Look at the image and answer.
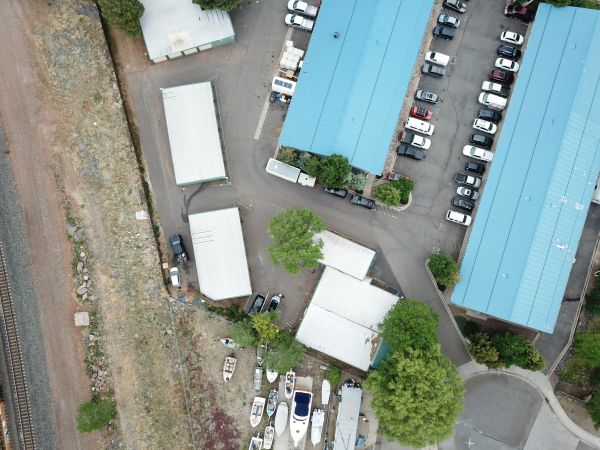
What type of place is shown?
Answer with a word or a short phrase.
industrial area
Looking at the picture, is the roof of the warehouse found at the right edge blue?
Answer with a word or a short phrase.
Yes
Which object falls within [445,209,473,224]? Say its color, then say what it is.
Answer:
white car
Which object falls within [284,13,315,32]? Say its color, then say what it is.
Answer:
white vehicle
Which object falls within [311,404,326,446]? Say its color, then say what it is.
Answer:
white boat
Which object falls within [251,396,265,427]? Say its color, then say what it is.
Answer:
white boat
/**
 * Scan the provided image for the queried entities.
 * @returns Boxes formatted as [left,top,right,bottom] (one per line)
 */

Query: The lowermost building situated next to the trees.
[296,265,400,373]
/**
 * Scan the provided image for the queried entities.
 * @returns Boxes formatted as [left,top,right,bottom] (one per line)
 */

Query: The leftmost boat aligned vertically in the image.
[224,352,237,380]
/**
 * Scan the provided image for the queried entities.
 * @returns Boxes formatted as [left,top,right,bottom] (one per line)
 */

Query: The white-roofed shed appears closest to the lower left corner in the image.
[188,207,254,301]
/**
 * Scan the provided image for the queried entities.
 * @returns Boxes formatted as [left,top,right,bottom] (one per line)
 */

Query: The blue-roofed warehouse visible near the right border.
[451,3,600,335]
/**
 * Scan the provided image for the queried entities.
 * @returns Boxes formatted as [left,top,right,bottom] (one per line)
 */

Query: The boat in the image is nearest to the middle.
[265,294,281,315]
